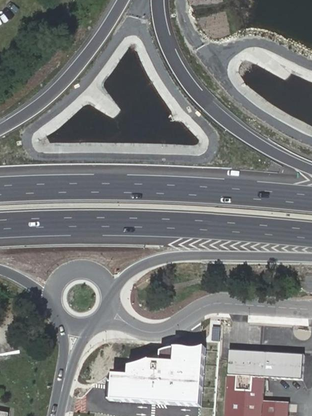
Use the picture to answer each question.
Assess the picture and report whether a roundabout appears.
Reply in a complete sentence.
Yes, the image includes a roundabout.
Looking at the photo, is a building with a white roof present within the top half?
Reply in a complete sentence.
No, no building with a white roof is visible within the top half.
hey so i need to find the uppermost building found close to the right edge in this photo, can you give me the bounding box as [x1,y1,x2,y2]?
[226,350,304,380]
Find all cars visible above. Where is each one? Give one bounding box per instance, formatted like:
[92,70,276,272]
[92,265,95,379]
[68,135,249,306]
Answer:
[58,325,64,336]
[258,192,270,198]
[280,380,289,390]
[50,404,57,416]
[130,194,142,198]
[220,198,231,203]
[292,381,300,390]
[28,222,40,228]
[56,370,63,381]
[0,12,8,23]
[3,8,13,20]
[7,2,18,14]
